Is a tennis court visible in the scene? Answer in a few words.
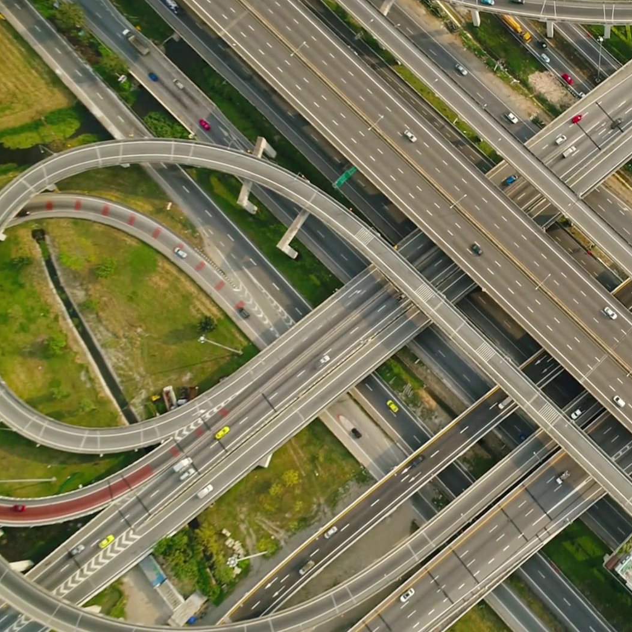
No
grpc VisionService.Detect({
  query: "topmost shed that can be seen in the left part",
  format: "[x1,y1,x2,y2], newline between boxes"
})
[139,554,171,588]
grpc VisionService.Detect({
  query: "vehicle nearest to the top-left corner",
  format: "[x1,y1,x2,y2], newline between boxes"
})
[124,29,146,52]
